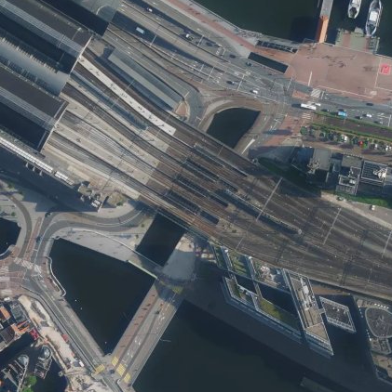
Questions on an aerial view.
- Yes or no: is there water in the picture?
Yes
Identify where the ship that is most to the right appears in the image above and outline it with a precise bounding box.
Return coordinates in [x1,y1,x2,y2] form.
[366,1,382,37]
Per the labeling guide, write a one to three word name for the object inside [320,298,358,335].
building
